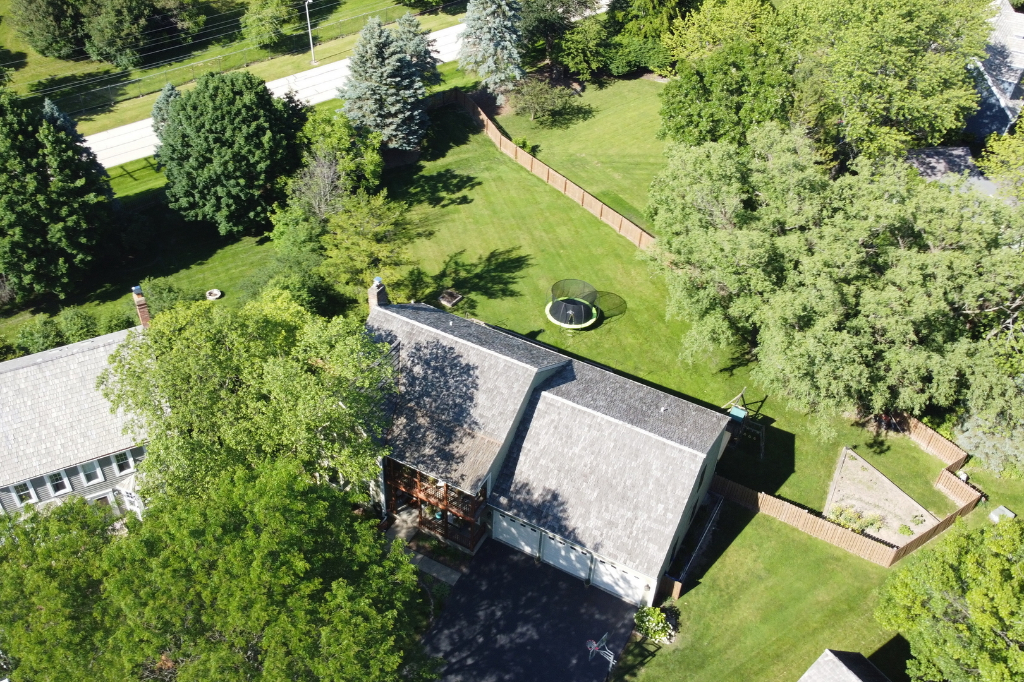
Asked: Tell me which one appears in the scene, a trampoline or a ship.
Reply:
trampoline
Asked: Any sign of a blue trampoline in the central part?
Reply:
No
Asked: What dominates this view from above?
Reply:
trees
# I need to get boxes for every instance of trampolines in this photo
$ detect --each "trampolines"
[544,279,600,342]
